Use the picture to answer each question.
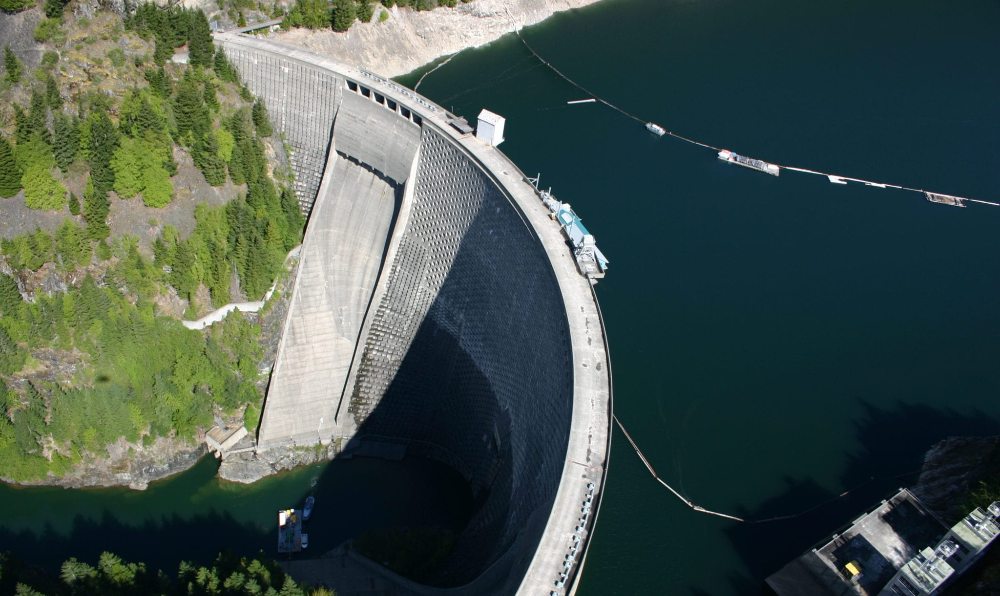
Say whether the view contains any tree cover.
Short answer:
Yes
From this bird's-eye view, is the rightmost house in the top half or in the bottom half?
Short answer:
bottom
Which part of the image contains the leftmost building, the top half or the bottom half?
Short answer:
bottom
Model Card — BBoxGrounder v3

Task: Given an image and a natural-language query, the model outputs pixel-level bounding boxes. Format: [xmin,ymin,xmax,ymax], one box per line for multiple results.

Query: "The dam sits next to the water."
[195,28,613,596]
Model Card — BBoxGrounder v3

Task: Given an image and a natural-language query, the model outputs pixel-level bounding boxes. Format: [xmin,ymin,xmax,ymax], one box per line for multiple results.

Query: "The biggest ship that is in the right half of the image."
[717,146,779,176]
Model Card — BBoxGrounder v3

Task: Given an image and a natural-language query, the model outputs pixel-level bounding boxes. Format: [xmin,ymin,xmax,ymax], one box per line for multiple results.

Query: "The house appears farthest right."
[934,505,1000,583]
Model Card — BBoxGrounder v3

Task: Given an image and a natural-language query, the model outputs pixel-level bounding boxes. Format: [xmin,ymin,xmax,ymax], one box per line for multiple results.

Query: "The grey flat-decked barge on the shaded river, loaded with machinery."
[278,507,302,554]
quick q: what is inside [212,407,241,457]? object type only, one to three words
building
